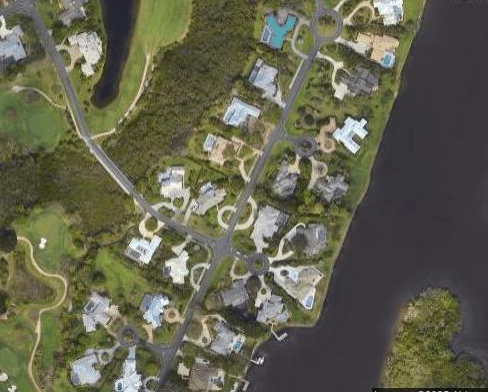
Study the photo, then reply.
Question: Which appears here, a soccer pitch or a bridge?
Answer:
bridge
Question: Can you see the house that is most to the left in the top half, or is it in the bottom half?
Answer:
top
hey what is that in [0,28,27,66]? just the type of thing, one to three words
house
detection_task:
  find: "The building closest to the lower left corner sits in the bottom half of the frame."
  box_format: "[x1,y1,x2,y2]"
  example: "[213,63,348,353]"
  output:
[68,352,101,385]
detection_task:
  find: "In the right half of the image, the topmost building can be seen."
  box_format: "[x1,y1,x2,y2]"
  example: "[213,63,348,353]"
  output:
[374,0,404,25]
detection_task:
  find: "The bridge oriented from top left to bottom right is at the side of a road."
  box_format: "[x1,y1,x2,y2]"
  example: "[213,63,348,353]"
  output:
[87,139,136,196]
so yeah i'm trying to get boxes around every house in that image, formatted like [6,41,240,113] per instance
[261,15,299,49]
[342,67,379,94]
[68,352,101,385]
[257,294,289,324]
[140,292,169,328]
[249,59,278,97]
[160,165,184,197]
[82,292,110,332]
[126,235,160,263]
[297,224,327,257]
[190,359,224,392]
[253,206,288,243]
[59,0,87,25]
[165,251,188,283]
[319,175,347,202]
[270,265,321,309]
[67,29,105,79]
[224,98,262,127]
[275,160,300,194]
[374,0,404,25]
[221,279,249,307]
[210,319,245,356]
[115,359,144,392]
[189,183,225,214]
[334,117,369,153]
[357,32,398,68]
[0,28,27,66]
